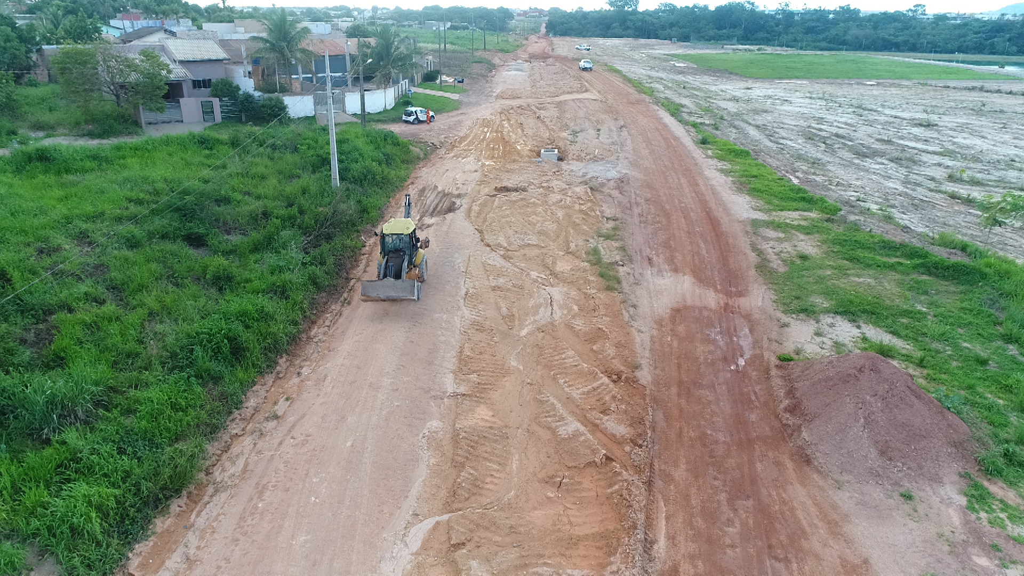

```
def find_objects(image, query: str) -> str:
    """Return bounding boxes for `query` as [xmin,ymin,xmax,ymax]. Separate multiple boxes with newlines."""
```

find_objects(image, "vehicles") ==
[400,107,437,124]
[574,44,592,50]
[361,193,433,303]
[580,61,592,71]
